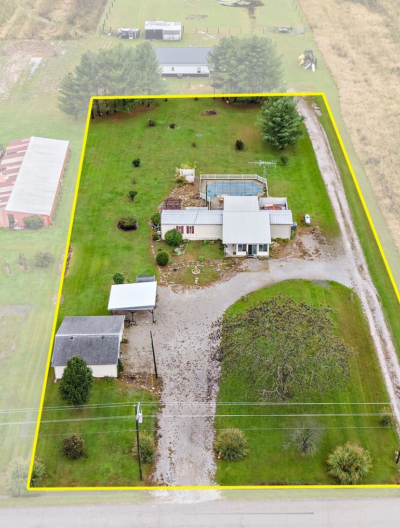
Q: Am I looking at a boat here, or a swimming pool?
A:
swimming pool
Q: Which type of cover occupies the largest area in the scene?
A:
grass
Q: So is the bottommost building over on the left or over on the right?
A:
left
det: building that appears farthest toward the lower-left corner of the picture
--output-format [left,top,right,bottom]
[52,317,124,378]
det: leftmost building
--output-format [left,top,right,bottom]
[0,136,73,227]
